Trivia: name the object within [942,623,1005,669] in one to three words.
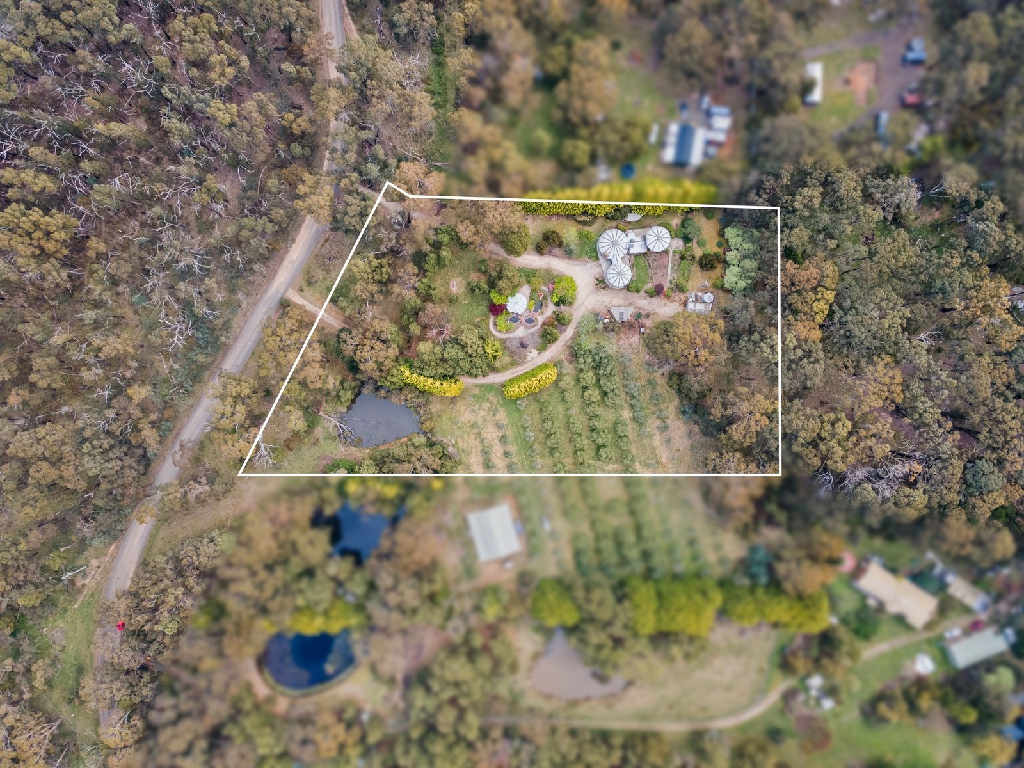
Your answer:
shed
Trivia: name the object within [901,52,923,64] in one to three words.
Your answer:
vehicle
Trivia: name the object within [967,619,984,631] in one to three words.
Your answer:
vehicle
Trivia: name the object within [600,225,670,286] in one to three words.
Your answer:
house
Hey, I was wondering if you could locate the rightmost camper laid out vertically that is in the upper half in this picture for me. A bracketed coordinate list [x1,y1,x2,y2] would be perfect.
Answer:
[876,110,889,138]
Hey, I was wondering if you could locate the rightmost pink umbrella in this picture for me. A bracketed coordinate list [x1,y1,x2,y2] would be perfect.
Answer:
[837,553,856,571]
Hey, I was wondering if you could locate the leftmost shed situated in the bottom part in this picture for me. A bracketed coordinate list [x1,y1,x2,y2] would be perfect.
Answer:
[467,502,521,561]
